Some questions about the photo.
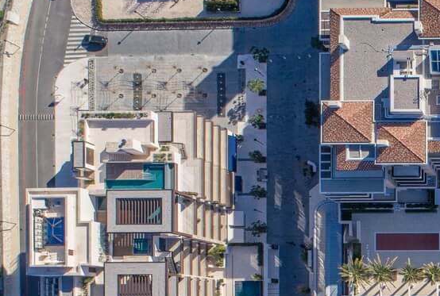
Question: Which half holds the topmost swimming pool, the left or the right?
left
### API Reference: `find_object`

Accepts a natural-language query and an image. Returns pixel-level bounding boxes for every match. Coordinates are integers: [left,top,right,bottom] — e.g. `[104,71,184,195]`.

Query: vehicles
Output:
[80,32,107,46]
